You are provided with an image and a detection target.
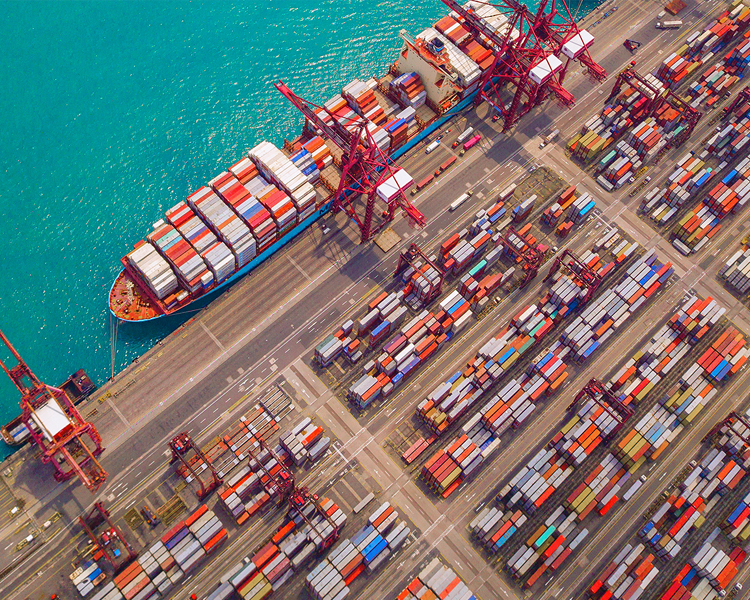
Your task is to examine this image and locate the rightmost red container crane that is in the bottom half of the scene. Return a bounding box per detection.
[703,409,750,448]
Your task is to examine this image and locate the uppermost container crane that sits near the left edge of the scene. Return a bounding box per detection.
[0,329,111,496]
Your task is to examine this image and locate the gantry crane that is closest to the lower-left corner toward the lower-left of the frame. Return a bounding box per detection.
[78,502,141,577]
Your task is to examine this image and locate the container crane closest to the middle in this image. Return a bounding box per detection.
[393,242,449,308]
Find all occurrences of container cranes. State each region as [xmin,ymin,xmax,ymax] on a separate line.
[494,0,607,106]
[570,374,638,442]
[78,502,141,577]
[703,409,750,448]
[642,89,704,152]
[393,242,449,308]
[244,437,300,508]
[282,485,341,558]
[488,224,547,288]
[724,83,750,116]
[168,429,226,501]
[606,67,664,124]
[0,329,111,496]
[544,247,606,310]
[270,80,428,245]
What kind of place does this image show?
port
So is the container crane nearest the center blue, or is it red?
red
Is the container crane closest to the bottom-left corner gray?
No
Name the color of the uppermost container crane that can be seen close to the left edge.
red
